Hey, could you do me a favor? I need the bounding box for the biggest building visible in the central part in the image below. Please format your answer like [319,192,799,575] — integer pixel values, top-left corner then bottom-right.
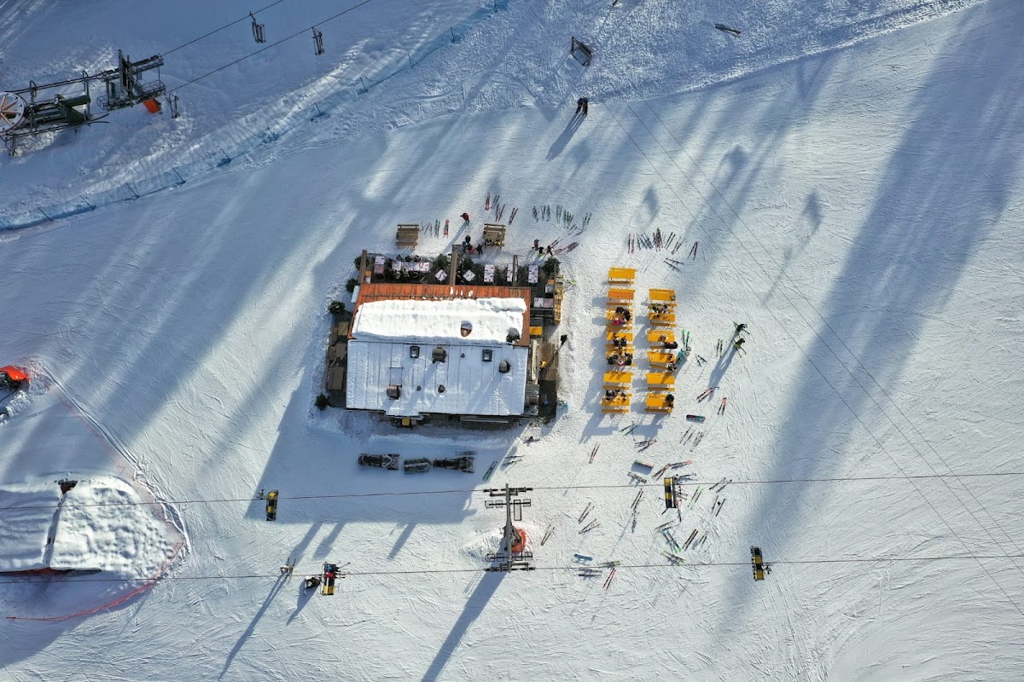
[346,283,532,422]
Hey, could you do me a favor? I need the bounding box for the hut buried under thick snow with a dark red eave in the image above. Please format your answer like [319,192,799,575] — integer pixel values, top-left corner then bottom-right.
[0,477,178,574]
